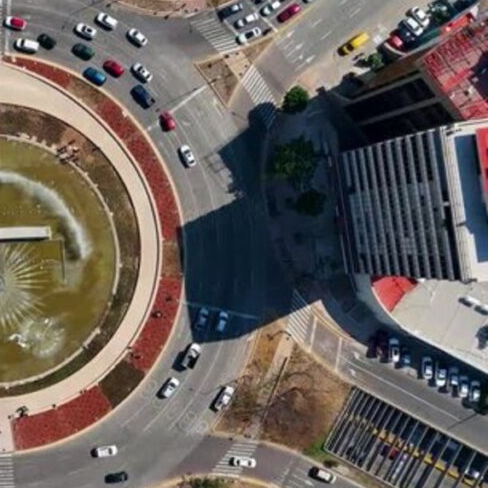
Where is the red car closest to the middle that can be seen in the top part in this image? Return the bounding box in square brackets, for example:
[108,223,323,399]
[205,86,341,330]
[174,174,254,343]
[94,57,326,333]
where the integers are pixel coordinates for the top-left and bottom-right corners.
[160,112,176,132]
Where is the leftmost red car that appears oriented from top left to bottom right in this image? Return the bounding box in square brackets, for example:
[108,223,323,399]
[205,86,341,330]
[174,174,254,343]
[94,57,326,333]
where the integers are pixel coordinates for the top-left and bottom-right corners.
[103,59,126,77]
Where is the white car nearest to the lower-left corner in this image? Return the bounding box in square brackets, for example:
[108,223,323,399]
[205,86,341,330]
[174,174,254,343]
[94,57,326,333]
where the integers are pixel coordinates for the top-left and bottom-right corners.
[93,444,116,457]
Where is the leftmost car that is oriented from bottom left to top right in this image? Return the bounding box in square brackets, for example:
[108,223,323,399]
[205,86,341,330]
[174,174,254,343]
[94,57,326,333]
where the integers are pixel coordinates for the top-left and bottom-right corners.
[160,376,180,398]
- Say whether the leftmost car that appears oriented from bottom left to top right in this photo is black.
No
